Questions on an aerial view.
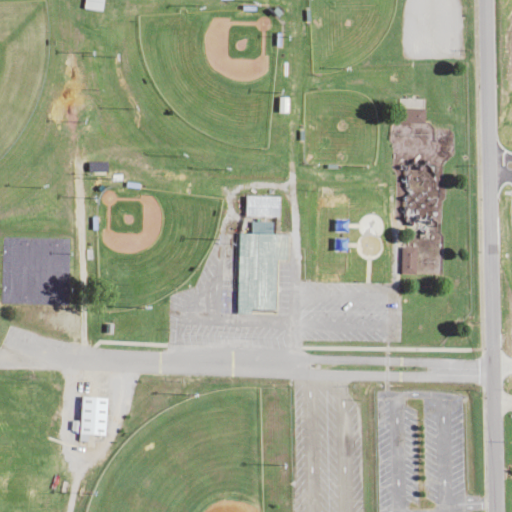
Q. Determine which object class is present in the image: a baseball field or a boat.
baseball field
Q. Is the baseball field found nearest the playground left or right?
right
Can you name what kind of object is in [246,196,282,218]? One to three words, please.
shed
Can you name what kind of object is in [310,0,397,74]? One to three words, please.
baseball field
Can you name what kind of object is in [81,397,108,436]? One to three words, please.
building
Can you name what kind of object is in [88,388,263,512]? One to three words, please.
baseball field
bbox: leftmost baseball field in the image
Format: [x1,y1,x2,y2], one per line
[0,0,50,160]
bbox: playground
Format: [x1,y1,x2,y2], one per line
[401,154,442,239]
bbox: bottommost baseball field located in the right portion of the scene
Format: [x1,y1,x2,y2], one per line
[304,90,378,166]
